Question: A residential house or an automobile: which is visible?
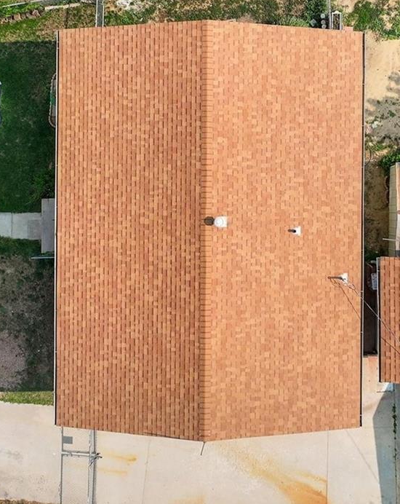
residential house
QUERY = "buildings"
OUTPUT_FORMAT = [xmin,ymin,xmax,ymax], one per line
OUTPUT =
[53,19,366,439]
[374,257,400,383]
